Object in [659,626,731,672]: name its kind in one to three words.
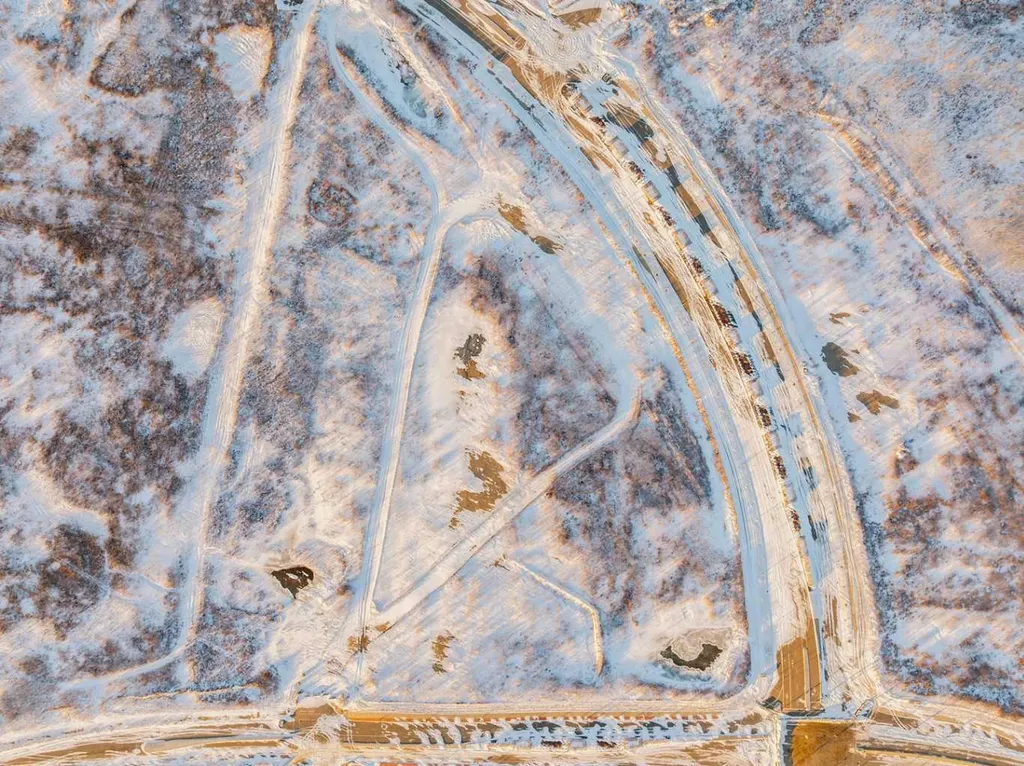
pond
